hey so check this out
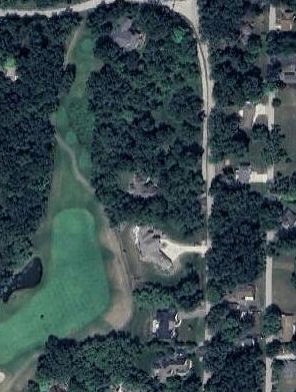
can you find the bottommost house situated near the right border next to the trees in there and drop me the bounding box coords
[271,356,296,382]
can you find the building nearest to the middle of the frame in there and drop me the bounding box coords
[128,176,158,199]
